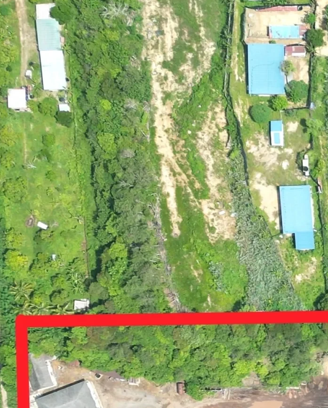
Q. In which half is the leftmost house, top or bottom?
top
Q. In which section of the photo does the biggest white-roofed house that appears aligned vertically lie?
top left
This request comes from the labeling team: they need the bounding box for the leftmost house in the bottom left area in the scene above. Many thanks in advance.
[27,355,61,392]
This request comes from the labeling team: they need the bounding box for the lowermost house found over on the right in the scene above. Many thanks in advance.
[280,185,317,252]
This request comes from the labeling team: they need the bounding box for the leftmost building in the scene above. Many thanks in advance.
[7,88,33,111]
